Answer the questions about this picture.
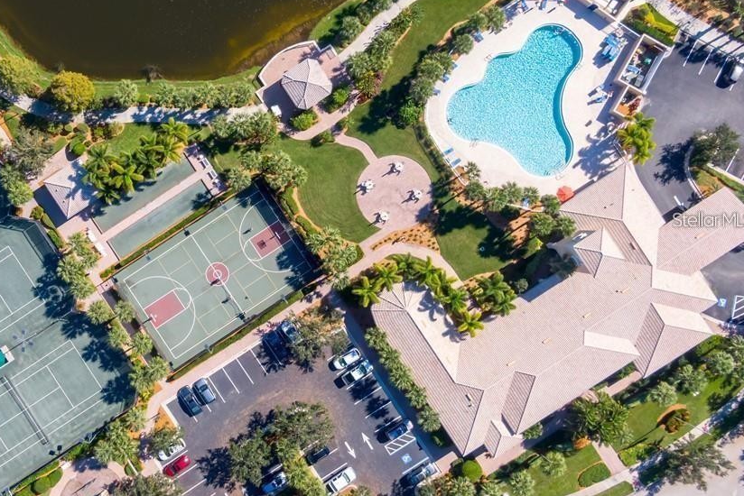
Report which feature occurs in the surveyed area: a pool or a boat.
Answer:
pool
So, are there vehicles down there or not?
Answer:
Yes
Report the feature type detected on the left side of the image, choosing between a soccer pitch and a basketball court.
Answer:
basketball court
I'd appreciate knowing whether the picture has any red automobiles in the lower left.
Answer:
Yes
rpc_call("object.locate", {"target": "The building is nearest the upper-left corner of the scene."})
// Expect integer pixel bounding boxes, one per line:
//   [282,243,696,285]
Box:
[43,158,100,221]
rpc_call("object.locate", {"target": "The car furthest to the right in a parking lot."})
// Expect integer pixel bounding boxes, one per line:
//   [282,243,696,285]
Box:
[724,56,744,86]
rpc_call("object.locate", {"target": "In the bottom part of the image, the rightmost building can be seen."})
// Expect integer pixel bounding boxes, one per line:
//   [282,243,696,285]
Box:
[370,164,744,458]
